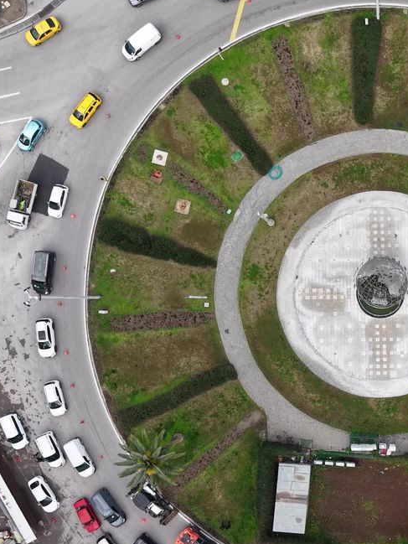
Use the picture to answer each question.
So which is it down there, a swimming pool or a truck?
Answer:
truck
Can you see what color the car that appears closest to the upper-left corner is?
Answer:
yellow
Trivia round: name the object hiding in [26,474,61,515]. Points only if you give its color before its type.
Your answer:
white car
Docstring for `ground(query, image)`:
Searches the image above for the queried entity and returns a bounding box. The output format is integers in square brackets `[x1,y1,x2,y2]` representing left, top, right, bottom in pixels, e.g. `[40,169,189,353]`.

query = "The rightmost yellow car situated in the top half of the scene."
[68,90,104,129]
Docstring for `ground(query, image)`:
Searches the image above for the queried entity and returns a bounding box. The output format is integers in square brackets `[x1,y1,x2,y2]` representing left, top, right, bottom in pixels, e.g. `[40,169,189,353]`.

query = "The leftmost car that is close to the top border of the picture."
[25,21,64,48]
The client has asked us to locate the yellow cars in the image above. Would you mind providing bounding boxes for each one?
[25,21,64,48]
[68,90,104,129]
